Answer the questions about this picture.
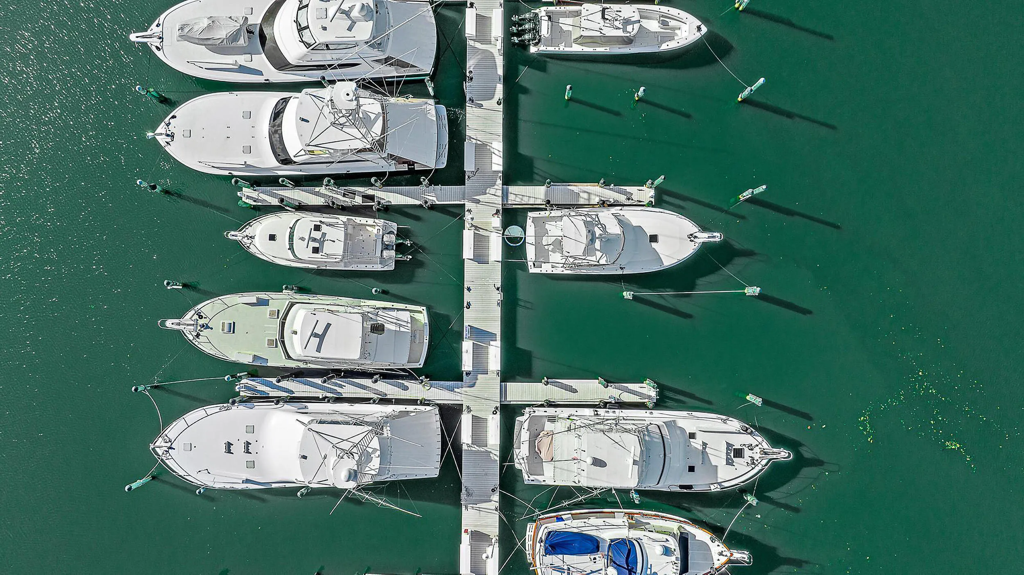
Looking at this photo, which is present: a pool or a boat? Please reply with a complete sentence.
Visible in the photo is a boat.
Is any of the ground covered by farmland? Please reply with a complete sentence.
No, there is no farmland in the image.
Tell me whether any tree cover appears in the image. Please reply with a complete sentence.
No, no tree cover is visible.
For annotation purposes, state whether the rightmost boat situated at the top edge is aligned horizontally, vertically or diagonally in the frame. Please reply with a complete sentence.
The rightmost boat situated at the top edge is oriented horizontally.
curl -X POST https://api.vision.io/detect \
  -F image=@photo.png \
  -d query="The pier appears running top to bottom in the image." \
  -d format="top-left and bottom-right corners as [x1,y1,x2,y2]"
[459,0,504,575]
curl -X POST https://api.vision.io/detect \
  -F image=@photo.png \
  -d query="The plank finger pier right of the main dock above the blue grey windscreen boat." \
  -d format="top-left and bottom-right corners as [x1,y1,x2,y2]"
[501,378,659,404]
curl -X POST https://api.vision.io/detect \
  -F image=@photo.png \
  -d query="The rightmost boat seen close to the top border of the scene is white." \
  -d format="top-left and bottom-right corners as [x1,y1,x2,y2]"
[511,4,708,57]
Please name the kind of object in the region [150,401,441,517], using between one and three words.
boat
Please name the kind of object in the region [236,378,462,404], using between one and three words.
pier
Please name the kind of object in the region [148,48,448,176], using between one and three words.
boat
